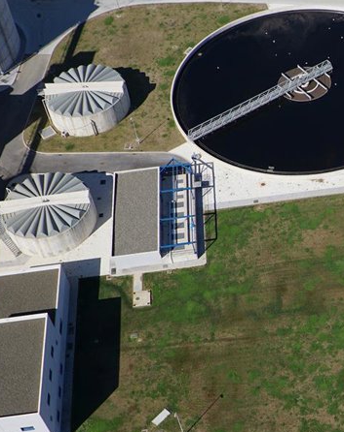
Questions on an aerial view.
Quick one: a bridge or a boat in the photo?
bridge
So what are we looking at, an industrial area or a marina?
industrial area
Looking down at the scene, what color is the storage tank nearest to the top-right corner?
black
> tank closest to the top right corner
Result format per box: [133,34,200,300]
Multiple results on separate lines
[170,7,344,181]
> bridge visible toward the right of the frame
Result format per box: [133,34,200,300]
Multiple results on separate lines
[185,58,334,146]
